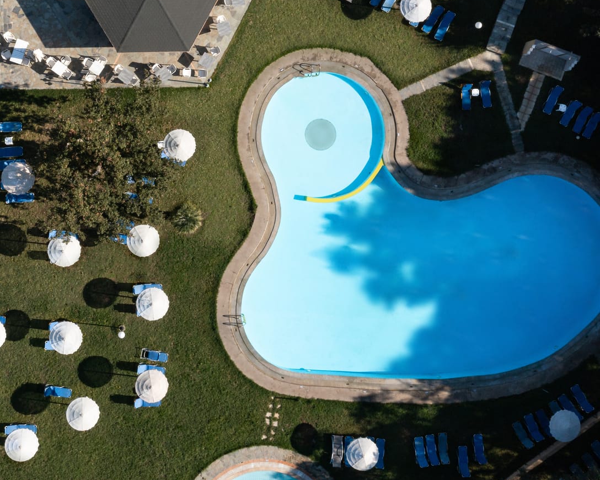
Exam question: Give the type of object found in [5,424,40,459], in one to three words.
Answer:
umbrella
